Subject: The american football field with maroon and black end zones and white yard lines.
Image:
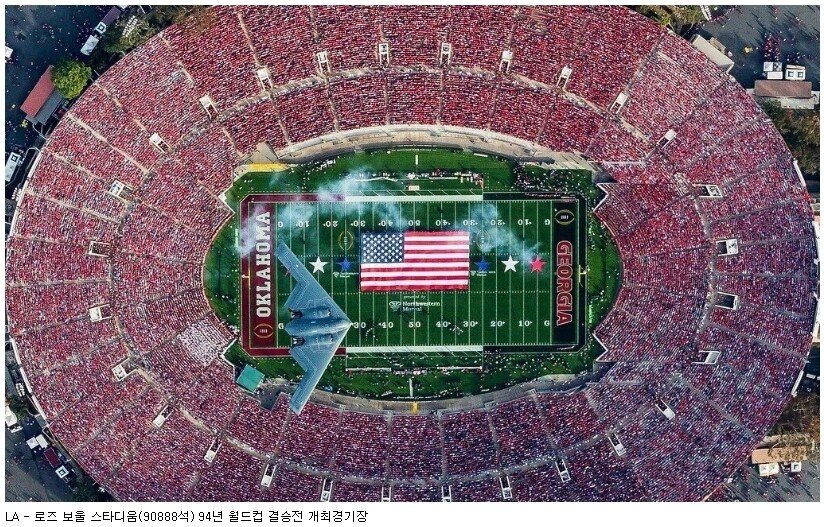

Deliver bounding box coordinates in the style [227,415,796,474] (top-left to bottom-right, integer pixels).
[241,177,598,369]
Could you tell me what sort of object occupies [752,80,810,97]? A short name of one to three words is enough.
building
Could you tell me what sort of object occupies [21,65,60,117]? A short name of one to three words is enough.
building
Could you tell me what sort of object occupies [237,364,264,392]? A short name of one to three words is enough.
tent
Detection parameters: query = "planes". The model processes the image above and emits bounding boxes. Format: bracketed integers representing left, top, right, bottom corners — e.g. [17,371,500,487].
[274,242,351,414]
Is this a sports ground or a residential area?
sports ground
